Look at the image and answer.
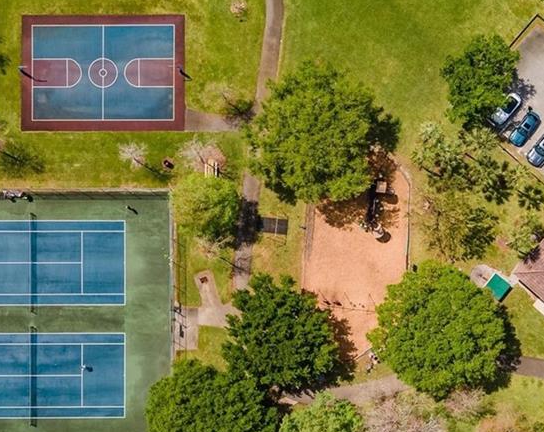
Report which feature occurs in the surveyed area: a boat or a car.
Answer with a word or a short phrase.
car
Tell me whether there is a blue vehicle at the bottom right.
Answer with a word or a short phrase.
No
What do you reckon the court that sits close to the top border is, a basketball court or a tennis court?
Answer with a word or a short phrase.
basketball court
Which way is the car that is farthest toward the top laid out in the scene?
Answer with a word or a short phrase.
on a diagonal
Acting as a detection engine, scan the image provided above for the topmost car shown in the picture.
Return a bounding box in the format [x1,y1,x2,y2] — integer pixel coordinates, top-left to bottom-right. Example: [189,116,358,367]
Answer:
[489,91,523,128]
